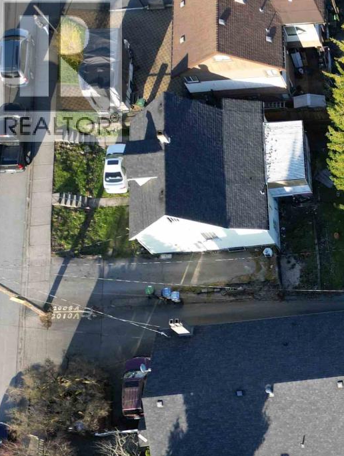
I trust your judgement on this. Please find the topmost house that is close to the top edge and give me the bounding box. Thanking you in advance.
[167,0,333,106]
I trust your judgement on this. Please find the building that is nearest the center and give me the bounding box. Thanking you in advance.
[122,86,314,259]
